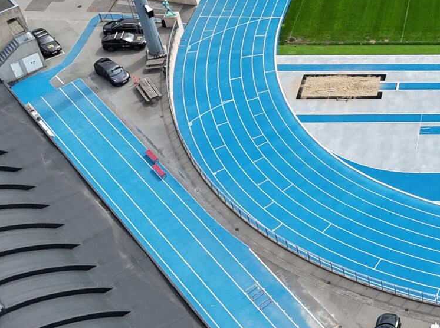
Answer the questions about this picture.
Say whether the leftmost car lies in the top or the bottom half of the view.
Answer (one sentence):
The leftmost car is in the top half of the image.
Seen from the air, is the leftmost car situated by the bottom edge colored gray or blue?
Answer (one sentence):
The leftmost car situated by the bottom edge is gray.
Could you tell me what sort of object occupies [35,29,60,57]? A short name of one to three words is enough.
car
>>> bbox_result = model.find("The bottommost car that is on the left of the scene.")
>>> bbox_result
[91,60,129,86]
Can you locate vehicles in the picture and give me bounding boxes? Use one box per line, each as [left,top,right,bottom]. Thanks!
[91,60,129,86]
[100,35,145,53]
[35,29,60,57]
[373,308,400,328]
[100,19,143,38]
